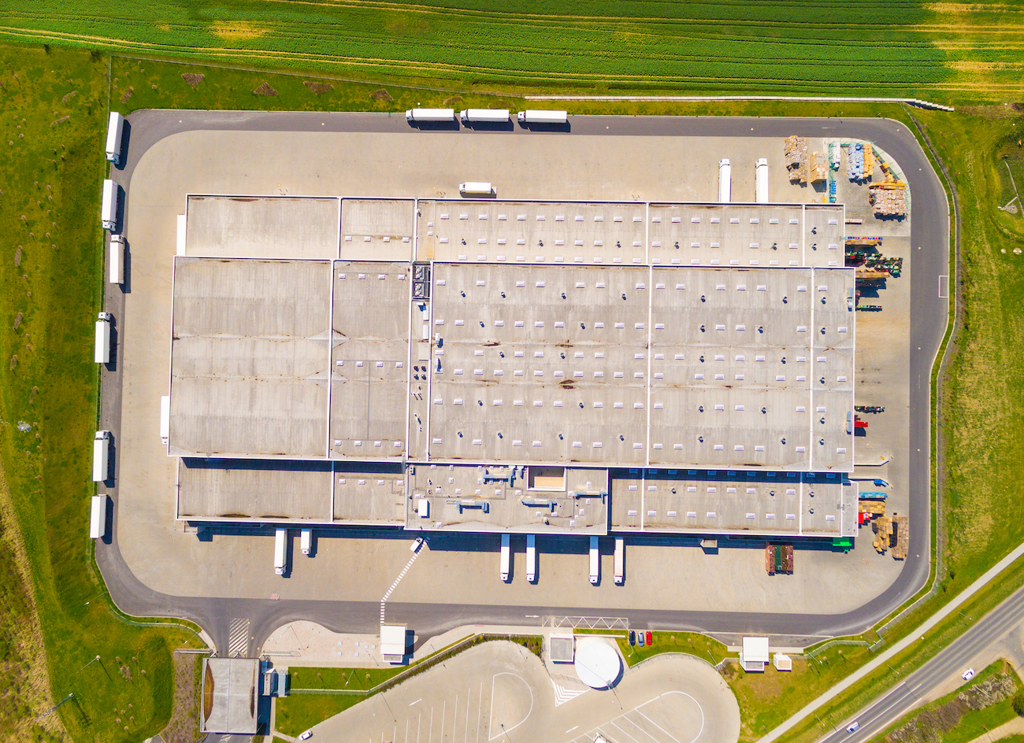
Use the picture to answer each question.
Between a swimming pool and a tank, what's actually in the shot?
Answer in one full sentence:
Looking from above, you can make out a tank.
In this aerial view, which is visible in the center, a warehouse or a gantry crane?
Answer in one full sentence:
It is a warehouse that can be seen in the center.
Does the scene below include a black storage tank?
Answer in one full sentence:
No, there is no black storage tank in the image.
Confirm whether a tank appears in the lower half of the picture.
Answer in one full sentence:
Yes, there is a tank in the lower half of the picture.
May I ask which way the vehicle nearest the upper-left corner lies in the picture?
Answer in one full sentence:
The vehicle nearest the upper-left corner has been laid out vertically relative to the frame.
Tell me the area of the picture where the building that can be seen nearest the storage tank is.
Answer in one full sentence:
Look in the bottom portion of the view to spot the building that can be seen nearest the storage tank.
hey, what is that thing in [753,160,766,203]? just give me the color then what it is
white vehicle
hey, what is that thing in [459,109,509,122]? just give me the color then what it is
white vehicle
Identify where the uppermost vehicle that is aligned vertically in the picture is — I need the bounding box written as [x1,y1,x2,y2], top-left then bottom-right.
[106,109,126,164]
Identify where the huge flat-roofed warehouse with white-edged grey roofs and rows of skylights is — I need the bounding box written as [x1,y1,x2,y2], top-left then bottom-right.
[168,194,859,543]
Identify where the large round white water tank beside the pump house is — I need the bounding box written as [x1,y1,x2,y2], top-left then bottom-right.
[572,637,620,688]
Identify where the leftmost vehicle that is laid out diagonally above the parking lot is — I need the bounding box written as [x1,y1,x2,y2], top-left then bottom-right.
[410,536,423,552]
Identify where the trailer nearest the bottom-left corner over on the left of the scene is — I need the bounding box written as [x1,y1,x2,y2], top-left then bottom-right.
[90,495,107,539]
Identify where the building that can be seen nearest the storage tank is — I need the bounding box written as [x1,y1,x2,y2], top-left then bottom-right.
[550,630,573,662]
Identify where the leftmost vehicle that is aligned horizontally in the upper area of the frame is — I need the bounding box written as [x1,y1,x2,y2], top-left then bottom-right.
[404,108,455,121]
